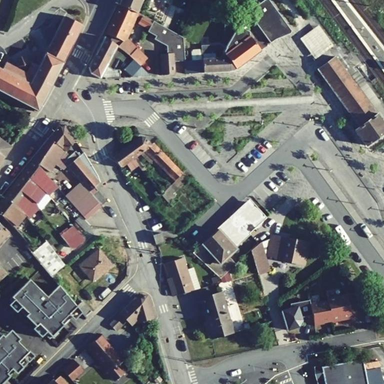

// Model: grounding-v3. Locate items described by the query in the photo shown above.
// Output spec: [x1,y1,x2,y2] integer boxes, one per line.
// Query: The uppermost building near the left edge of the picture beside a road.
[0,16,84,110]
